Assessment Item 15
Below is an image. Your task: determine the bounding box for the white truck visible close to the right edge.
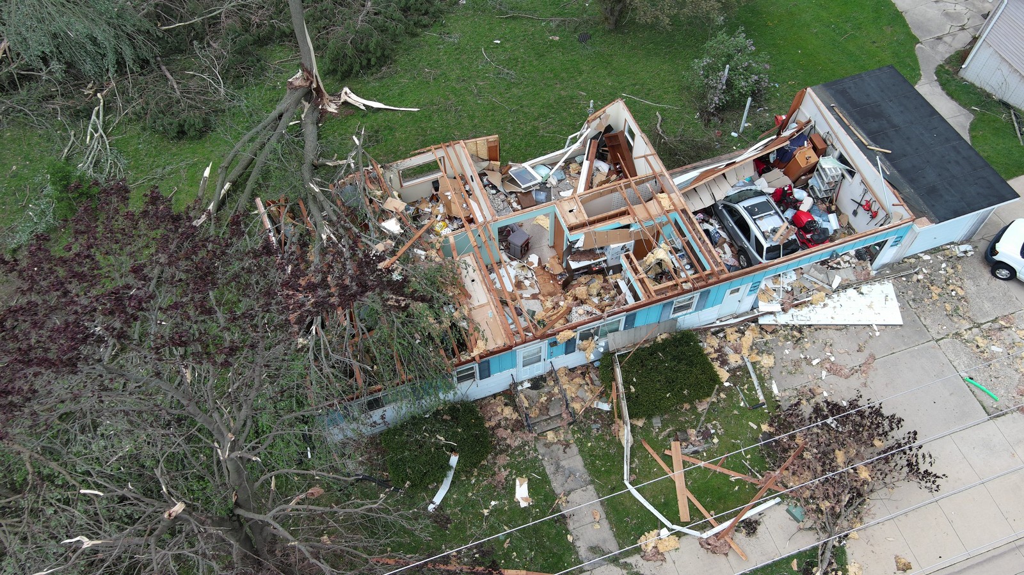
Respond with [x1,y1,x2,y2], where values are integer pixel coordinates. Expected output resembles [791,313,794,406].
[978,224,1024,288]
